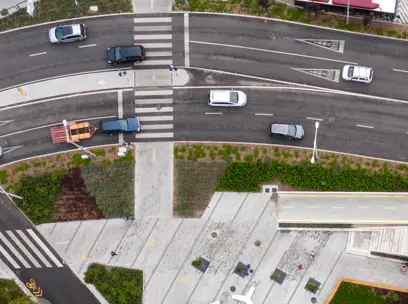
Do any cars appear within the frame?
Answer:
Yes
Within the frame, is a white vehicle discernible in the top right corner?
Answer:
Yes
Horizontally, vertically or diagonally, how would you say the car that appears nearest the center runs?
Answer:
horizontally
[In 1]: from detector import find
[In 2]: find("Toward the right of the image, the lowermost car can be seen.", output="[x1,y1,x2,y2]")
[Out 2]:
[270,122,305,141]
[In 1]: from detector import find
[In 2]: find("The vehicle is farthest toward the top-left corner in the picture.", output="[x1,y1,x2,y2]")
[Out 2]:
[50,24,89,46]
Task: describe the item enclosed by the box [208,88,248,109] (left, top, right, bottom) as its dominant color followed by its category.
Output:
white car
